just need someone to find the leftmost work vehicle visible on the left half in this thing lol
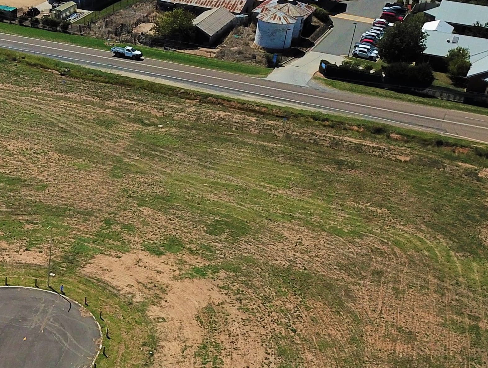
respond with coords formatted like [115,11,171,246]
[22,5,46,18]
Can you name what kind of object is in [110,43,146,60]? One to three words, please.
vehicle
